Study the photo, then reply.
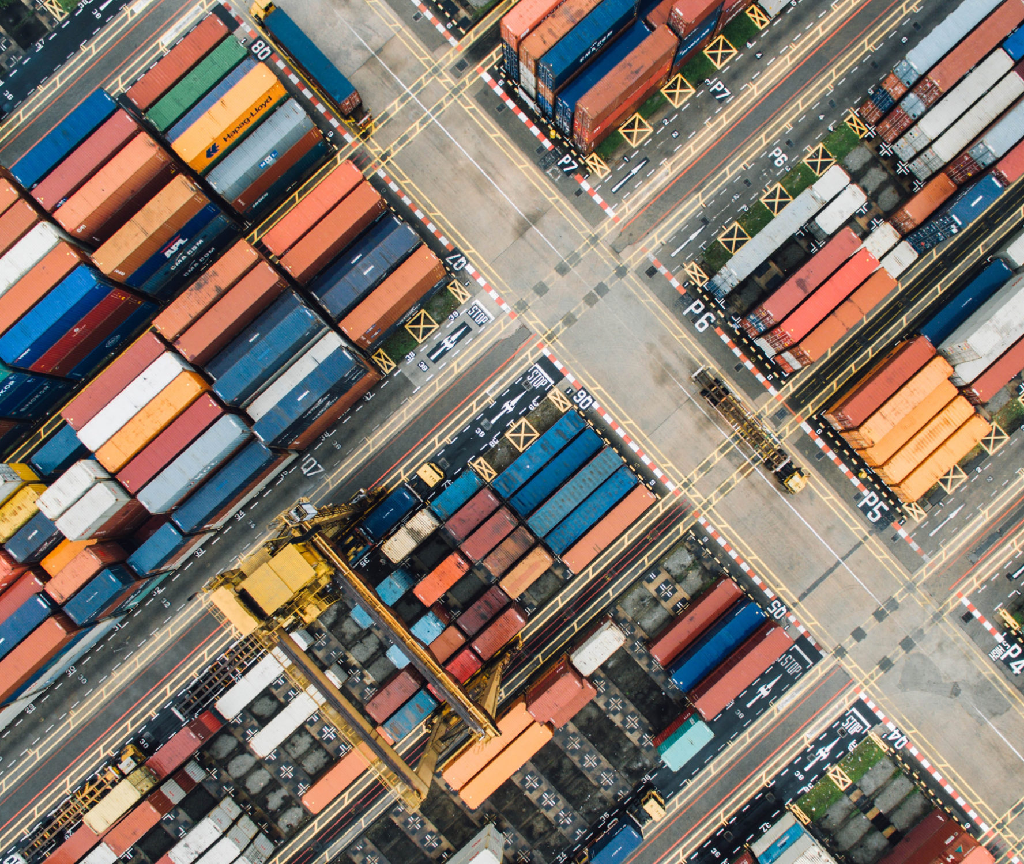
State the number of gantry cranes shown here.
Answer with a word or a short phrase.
one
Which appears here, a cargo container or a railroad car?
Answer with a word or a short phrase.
cargo container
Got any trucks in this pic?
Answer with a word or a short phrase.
Yes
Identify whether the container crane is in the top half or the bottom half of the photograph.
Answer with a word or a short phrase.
bottom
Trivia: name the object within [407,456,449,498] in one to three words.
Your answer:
truck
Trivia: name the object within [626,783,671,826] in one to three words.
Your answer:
truck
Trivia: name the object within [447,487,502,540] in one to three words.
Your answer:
shipping container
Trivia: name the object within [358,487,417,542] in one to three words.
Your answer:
shipping container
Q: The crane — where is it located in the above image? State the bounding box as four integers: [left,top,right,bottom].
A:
[194,480,531,806]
